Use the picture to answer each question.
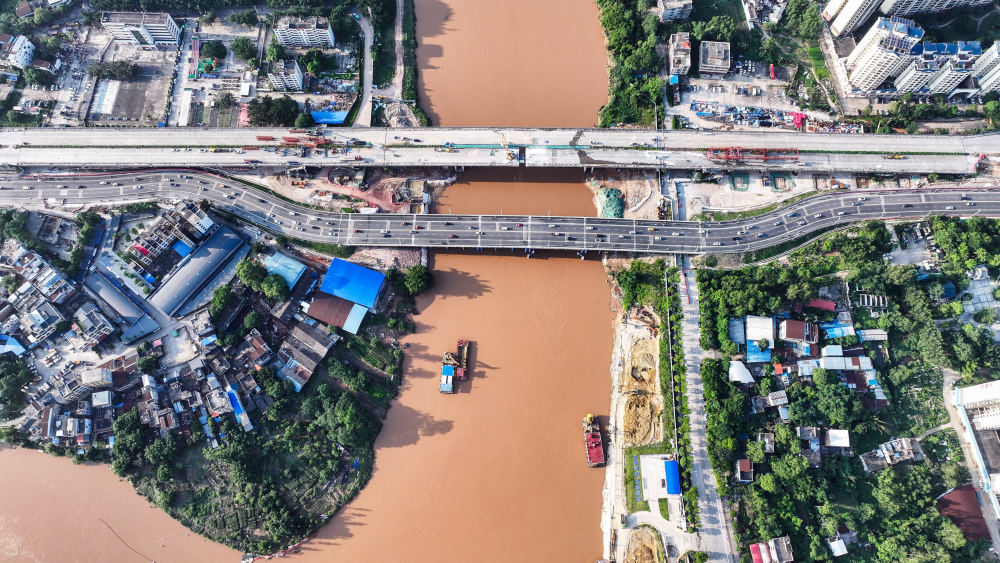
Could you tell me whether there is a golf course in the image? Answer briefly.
No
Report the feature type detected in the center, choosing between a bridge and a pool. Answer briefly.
bridge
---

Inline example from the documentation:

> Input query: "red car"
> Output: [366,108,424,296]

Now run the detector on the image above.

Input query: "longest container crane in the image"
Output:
[706,146,799,163]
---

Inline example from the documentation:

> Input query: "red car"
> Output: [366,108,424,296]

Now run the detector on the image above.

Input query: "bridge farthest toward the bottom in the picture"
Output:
[337,213,707,263]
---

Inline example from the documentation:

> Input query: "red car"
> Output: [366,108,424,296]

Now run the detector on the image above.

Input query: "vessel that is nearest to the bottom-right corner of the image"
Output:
[578,416,606,467]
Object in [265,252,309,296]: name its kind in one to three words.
shed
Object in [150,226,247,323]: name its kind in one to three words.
building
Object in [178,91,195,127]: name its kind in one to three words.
house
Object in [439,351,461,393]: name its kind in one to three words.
ship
